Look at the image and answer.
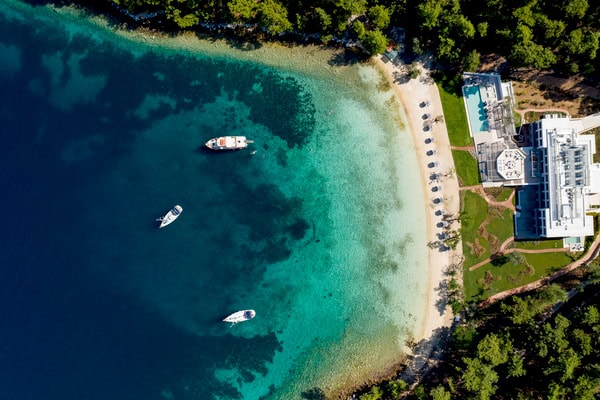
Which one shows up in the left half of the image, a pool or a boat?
boat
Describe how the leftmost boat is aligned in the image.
on a diagonal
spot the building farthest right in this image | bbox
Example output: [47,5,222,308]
[524,114,600,238]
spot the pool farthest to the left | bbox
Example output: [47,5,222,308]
[462,83,514,147]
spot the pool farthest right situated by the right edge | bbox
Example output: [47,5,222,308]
[562,237,584,252]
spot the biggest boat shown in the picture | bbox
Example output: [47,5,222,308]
[204,135,254,149]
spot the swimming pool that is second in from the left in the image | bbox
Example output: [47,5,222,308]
[514,187,544,238]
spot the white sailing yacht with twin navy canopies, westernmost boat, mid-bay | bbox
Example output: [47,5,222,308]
[157,203,185,228]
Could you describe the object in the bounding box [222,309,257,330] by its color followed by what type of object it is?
white boat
